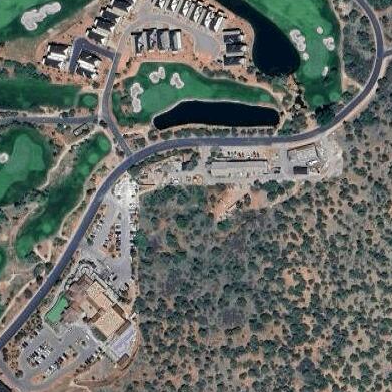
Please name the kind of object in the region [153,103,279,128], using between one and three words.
pond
